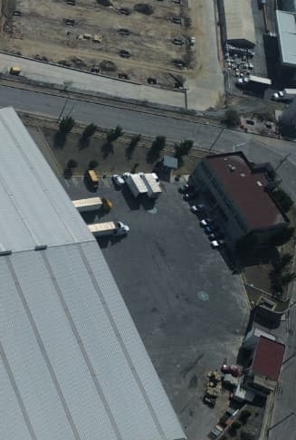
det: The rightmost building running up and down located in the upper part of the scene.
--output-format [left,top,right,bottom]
[265,10,296,85]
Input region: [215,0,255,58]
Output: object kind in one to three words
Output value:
building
